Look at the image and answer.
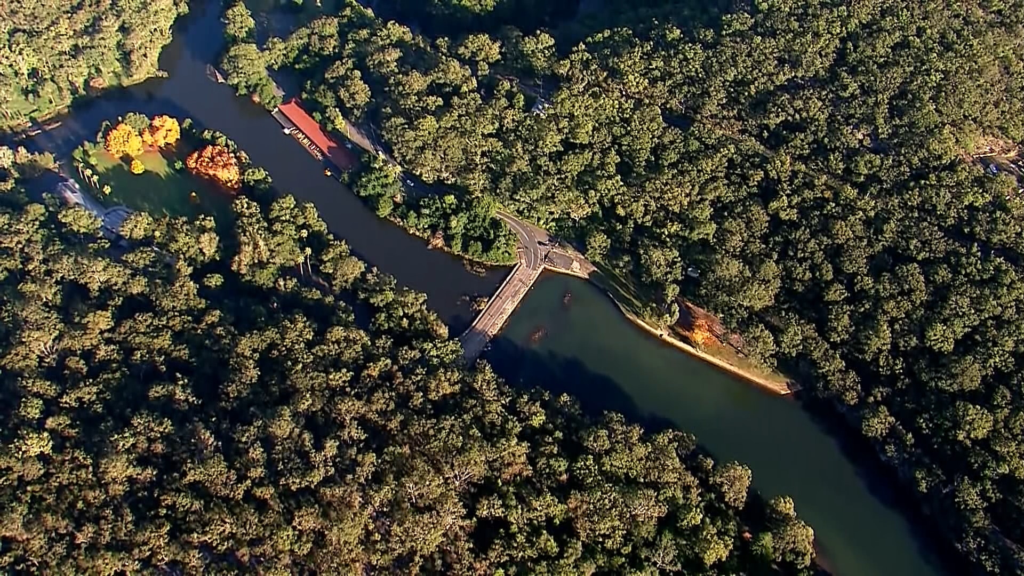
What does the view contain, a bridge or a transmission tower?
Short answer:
bridge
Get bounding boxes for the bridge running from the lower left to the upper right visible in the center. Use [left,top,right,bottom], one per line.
[462,245,543,358]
